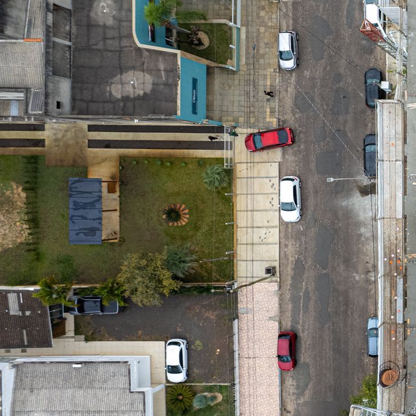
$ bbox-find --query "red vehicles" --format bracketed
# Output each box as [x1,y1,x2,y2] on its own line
[243,127,292,152]
[272,331,296,373]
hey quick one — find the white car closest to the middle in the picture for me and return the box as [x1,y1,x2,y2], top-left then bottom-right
[275,176,299,223]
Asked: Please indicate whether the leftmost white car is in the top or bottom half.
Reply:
bottom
